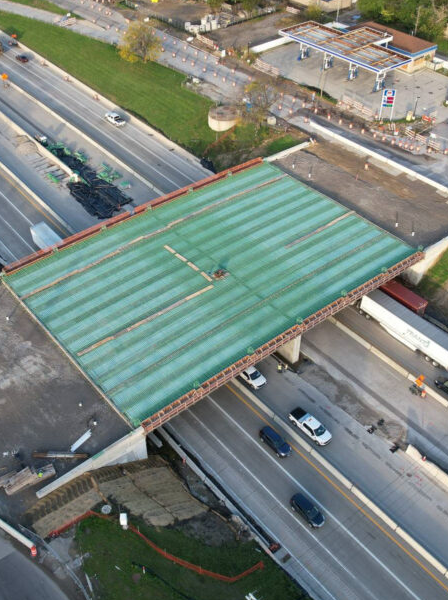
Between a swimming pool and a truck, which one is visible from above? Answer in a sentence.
Of the two, only a truck appears.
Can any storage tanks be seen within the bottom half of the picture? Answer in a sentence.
No, no storage tank can be made out within the bottom half of the picture.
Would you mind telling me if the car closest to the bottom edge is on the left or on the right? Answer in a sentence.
The car closest to the bottom edge sits on the right side.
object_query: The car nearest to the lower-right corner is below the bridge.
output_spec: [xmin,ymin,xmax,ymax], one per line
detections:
[283,489,330,536]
